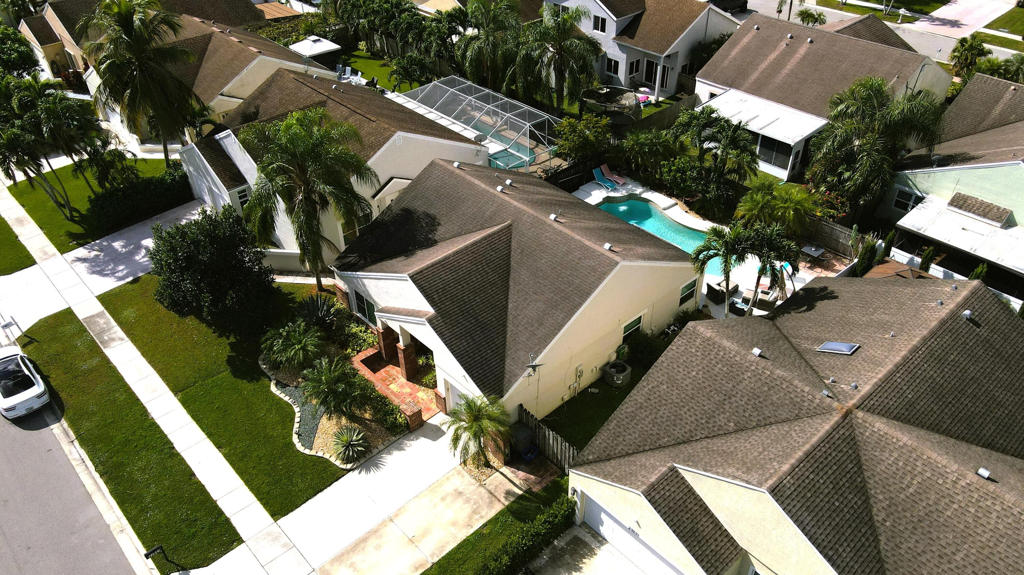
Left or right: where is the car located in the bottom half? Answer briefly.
left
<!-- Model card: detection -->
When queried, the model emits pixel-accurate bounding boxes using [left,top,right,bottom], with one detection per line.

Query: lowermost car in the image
[0,343,49,423]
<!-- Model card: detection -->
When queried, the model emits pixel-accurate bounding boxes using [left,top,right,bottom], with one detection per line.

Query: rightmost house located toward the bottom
[570,277,1024,575]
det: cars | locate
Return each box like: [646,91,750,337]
[0,343,49,423]
[700,0,758,15]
